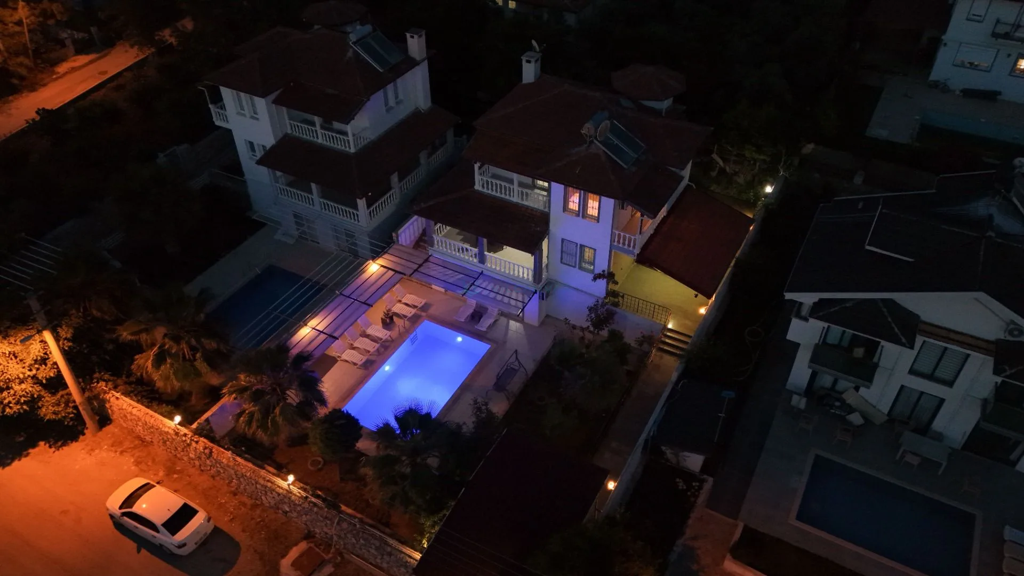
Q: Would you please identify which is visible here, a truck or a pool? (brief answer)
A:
pool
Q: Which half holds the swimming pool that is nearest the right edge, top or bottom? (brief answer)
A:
top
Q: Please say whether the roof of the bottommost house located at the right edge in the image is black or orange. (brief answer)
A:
black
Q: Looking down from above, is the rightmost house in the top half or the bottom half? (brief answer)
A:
top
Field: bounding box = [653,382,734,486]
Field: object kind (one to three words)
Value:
shed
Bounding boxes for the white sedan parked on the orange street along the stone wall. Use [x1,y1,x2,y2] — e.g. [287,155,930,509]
[109,477,212,552]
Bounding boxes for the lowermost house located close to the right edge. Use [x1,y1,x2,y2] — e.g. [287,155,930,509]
[782,173,1024,468]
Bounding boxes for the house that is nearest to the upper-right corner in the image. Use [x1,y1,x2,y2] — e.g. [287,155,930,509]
[927,0,1024,102]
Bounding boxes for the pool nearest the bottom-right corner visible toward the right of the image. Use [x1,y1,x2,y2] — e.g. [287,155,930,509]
[796,455,977,576]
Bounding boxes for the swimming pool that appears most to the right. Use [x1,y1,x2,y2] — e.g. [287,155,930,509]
[913,109,1024,166]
